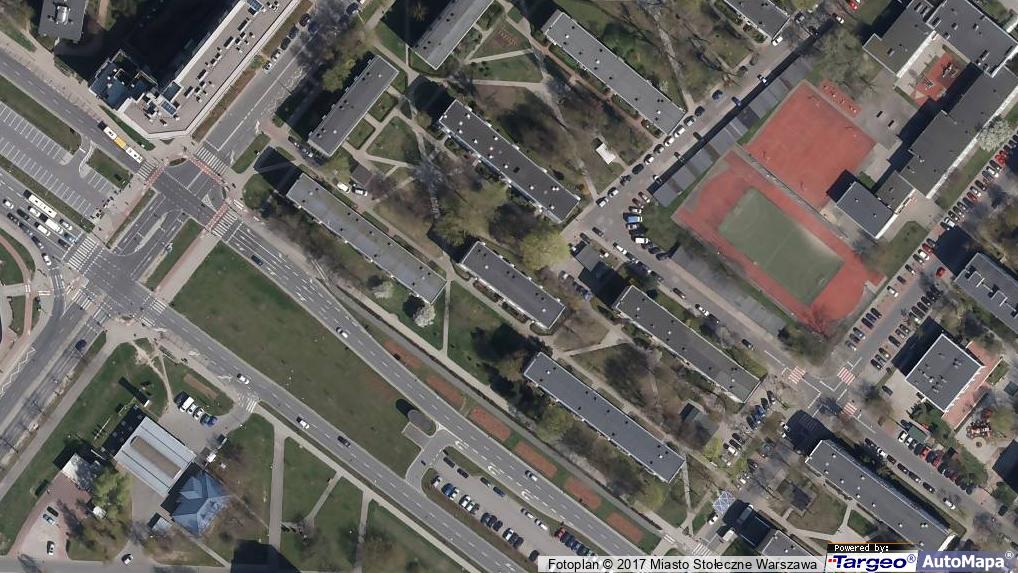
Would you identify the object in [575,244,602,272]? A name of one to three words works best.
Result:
shed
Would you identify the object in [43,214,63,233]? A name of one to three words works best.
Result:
vehicle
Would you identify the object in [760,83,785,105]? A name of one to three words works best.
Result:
building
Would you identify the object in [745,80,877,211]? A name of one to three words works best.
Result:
sports court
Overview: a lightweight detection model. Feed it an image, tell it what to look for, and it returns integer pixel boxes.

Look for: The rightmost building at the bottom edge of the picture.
[805,441,947,558]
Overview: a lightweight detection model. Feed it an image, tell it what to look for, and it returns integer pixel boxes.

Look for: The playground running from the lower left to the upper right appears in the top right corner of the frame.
[913,45,965,105]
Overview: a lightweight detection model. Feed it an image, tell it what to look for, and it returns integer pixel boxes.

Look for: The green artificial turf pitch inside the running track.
[719,188,843,303]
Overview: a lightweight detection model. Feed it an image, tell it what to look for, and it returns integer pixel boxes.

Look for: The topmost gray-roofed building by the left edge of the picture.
[39,0,87,42]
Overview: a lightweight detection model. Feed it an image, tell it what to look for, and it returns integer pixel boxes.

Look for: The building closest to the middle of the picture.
[461,241,567,329]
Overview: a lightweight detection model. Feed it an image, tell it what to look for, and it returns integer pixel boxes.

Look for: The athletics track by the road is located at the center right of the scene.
[672,151,888,339]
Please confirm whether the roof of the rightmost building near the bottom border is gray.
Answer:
Yes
